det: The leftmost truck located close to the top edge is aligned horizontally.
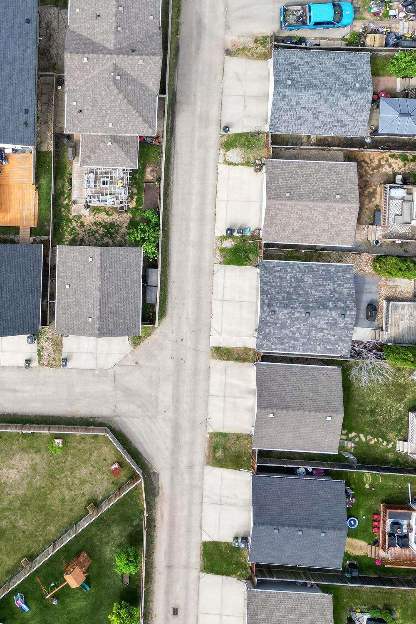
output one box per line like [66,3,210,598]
[279,1,353,30]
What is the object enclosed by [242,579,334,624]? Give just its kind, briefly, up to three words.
building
